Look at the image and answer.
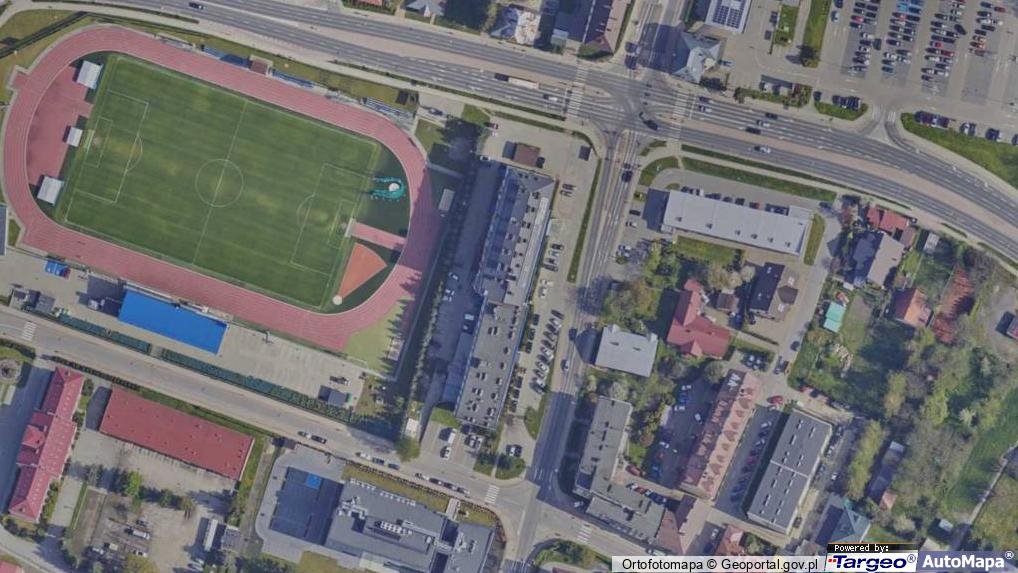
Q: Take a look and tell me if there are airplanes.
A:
No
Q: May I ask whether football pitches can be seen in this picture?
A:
Yes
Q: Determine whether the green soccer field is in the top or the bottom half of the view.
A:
top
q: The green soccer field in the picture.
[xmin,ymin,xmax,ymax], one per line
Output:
[57,52,380,312]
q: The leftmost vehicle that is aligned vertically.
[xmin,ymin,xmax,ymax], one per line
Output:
[204,518,218,550]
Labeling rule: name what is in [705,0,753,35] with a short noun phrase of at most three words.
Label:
building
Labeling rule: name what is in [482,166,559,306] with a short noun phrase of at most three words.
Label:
building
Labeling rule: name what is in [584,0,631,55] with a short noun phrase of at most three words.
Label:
house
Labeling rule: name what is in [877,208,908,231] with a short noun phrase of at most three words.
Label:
shed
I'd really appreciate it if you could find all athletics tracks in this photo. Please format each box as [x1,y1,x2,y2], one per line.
[0,25,439,352]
